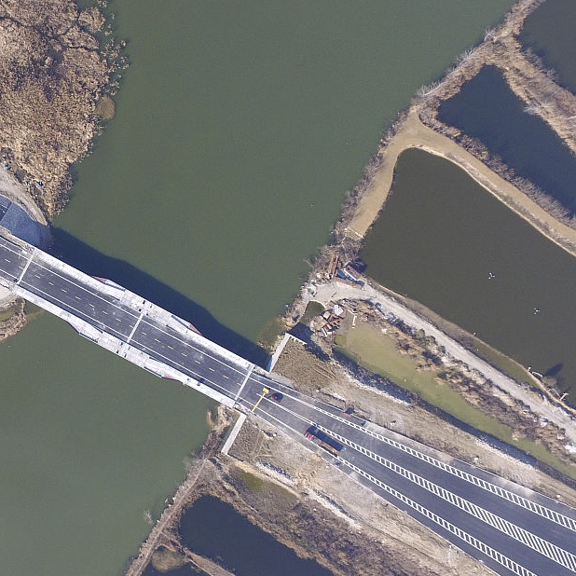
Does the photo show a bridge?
Yes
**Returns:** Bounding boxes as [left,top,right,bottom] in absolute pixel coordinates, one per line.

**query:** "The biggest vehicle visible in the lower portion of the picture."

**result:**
[306,431,344,455]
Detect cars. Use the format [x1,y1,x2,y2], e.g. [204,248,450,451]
[342,411,353,419]
[269,391,282,401]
